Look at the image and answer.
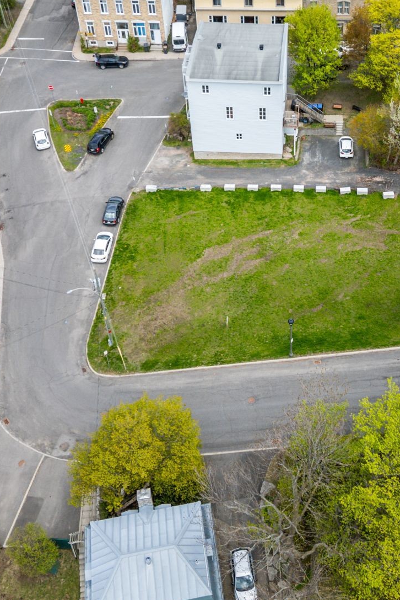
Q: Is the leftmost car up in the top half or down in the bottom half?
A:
top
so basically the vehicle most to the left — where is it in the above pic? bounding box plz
[29,124,51,149]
